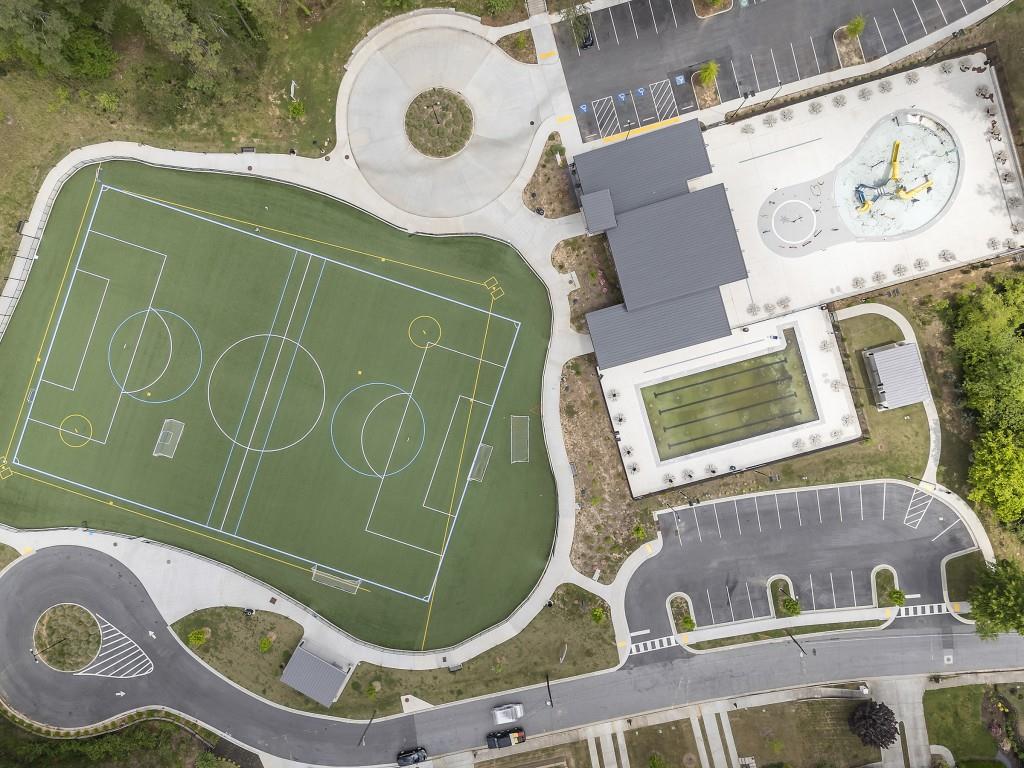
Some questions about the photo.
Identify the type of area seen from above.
sports ground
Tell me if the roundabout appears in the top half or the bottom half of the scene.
bottom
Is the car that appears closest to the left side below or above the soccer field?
below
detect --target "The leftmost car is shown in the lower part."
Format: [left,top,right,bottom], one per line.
[396,747,426,768]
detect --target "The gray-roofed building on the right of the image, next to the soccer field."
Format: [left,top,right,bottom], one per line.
[571,118,748,371]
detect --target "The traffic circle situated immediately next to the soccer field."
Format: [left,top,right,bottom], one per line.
[0,545,413,766]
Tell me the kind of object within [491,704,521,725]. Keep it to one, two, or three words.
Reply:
car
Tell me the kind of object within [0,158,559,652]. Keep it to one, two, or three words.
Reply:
soccer field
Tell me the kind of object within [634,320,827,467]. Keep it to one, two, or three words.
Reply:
swimming pool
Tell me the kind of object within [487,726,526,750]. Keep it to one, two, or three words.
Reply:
truck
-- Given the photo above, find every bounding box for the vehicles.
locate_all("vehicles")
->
[491,704,521,725]
[577,14,596,46]
[396,747,426,768]
[487,726,526,750]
